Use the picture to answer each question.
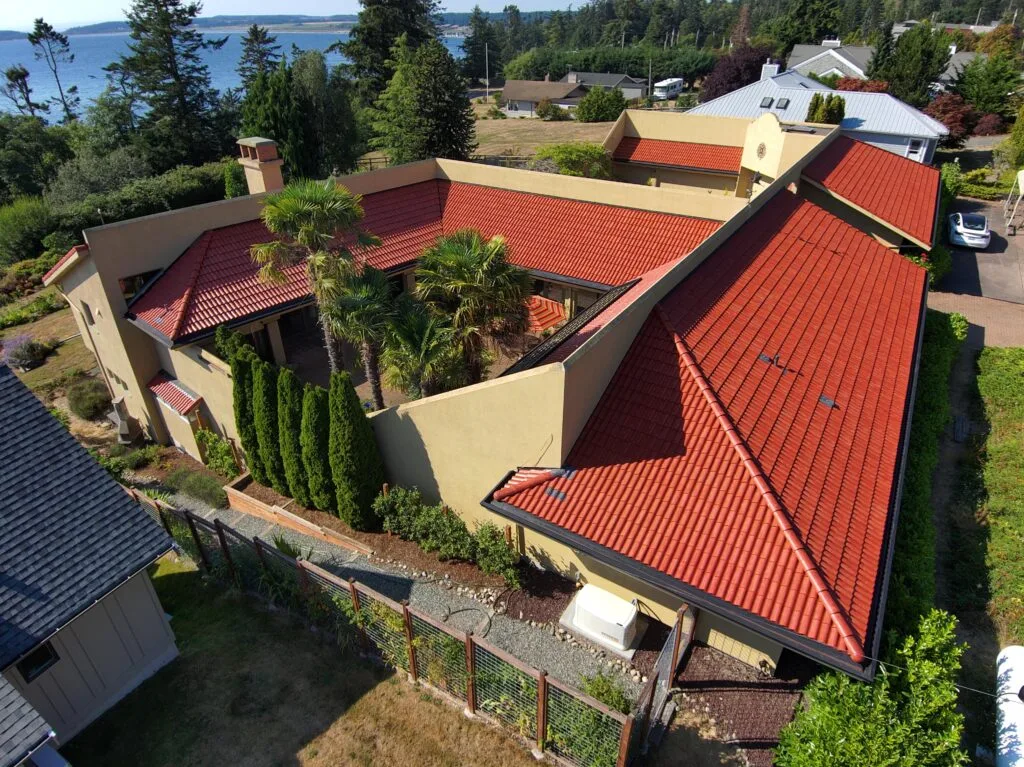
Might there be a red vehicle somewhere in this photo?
No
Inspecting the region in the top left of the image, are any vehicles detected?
No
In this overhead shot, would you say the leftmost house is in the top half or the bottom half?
bottom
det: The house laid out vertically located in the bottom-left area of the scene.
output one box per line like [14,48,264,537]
[0,368,183,767]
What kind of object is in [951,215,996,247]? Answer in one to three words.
car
